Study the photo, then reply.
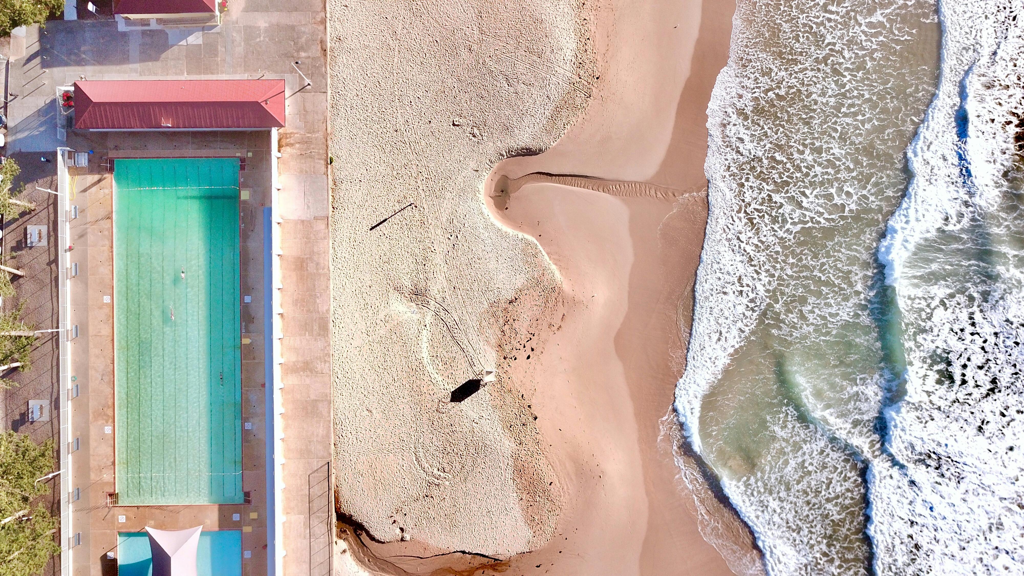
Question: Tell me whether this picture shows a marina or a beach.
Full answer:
The picture captures a beach.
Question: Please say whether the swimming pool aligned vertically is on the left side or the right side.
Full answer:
You can find the swimming pool aligned vertically on the left side of the picture.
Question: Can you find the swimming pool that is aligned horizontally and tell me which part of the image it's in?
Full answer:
The swimming pool that is aligned horizontally is in the bottom left part of the image.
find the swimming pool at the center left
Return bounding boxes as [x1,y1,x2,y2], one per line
[104,156,253,507]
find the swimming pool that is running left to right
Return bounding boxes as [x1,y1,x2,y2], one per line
[120,528,244,576]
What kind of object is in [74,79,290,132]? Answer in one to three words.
building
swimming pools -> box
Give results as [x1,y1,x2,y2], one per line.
[104,156,253,507]
[120,528,244,576]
